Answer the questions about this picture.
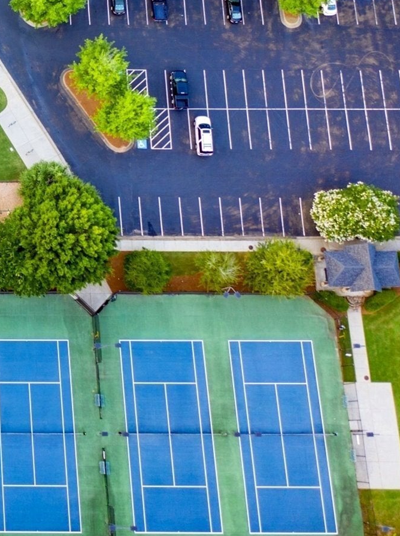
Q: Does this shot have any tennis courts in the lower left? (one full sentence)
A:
Yes, the scene does show a tennis court in the lower left.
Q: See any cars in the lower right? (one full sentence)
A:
No, no car can be made out in the lower right.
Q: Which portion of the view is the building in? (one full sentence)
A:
Look in the right portion of the view to spot the building.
